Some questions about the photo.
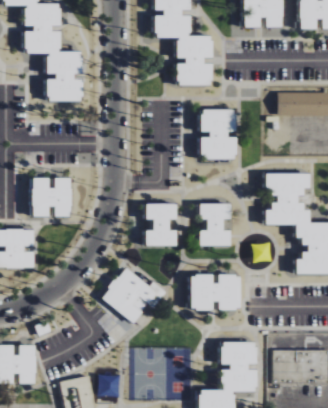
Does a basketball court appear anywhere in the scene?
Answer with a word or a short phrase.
Yes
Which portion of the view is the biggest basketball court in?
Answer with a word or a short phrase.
bottom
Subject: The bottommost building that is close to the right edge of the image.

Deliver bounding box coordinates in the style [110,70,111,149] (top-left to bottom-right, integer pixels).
[270,350,328,383]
